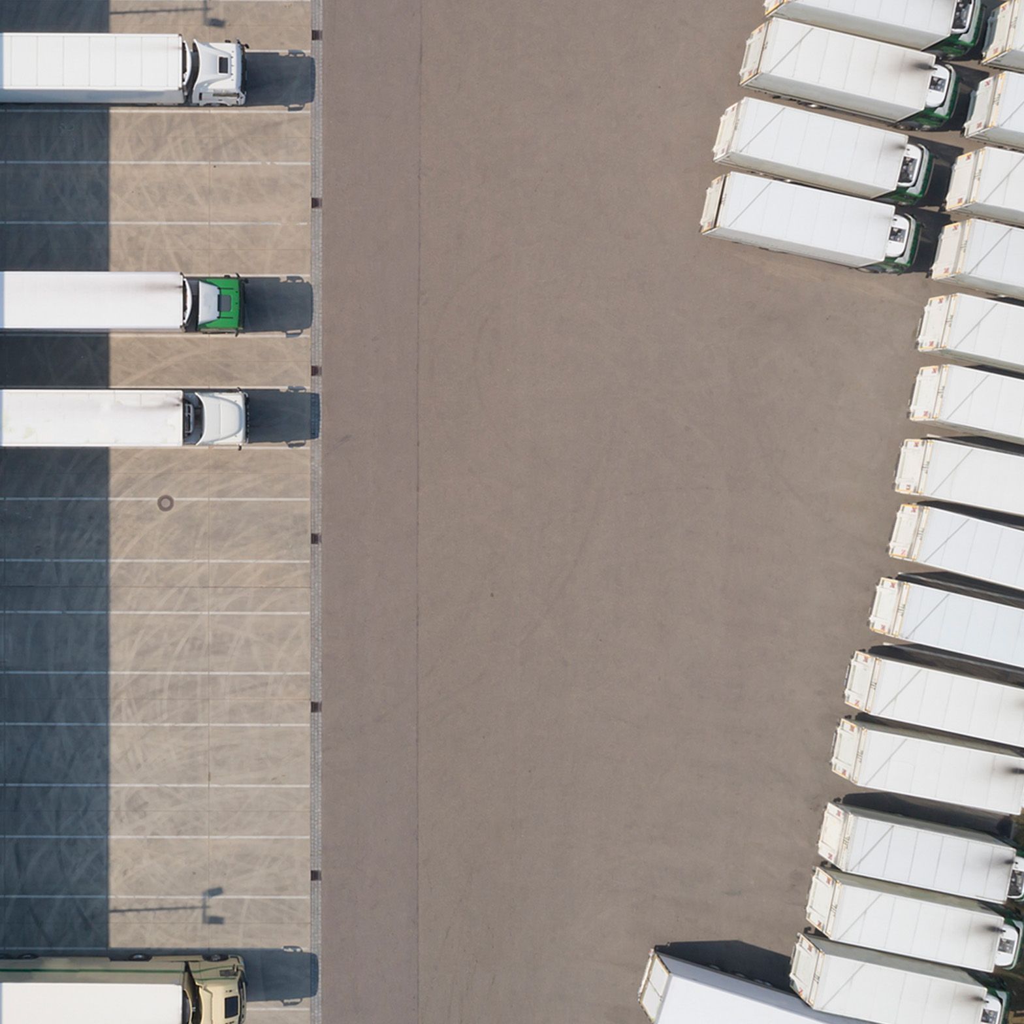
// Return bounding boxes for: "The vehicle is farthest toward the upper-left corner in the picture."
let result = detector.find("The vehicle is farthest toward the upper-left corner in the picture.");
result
[0,33,249,108]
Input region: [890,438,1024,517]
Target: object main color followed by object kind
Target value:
white truck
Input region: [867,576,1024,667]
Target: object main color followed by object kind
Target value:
white truck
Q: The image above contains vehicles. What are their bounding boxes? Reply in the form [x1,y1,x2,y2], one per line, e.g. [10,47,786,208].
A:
[708,97,935,211]
[976,0,1024,73]
[905,364,1024,445]
[737,18,964,134]
[867,576,1024,667]
[814,798,1024,906]
[828,715,1024,815]
[841,648,1024,747]
[0,386,249,451]
[963,70,1024,152]
[0,952,249,1024]
[927,218,1024,300]
[942,146,1024,229]
[787,931,1016,1024]
[0,33,249,108]
[0,270,249,336]
[890,438,1024,517]
[763,0,991,62]
[697,172,924,279]
[885,502,1024,589]
[914,293,1024,376]
[803,864,1024,974]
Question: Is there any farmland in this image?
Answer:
No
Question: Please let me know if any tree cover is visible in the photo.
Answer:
No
